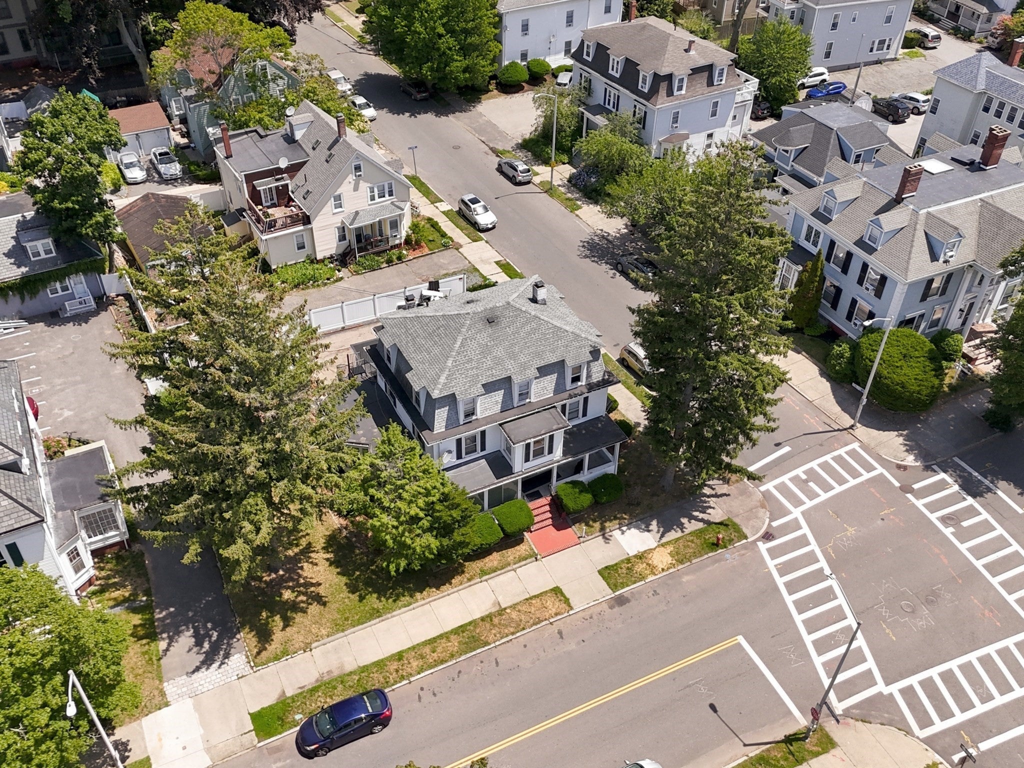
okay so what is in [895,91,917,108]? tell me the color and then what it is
gray car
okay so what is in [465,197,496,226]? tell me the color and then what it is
white car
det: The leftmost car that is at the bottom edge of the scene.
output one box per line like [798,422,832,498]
[292,686,393,756]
